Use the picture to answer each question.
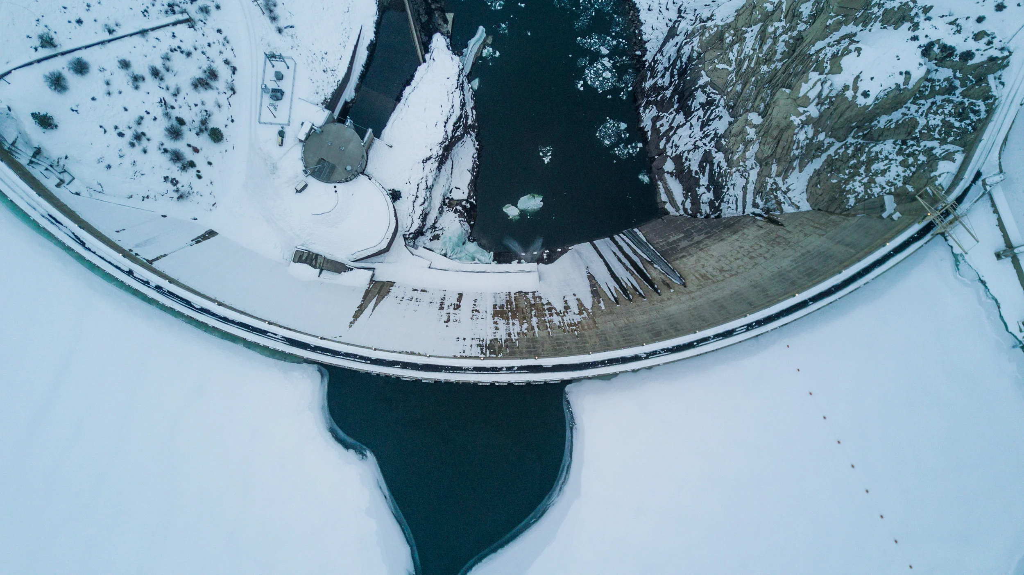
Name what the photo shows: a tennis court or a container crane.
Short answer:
container crane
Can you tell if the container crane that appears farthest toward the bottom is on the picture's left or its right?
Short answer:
right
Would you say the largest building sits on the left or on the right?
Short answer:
left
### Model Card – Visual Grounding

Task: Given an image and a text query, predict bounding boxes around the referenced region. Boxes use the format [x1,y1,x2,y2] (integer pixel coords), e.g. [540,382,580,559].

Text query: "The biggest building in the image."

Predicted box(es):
[302,121,370,186]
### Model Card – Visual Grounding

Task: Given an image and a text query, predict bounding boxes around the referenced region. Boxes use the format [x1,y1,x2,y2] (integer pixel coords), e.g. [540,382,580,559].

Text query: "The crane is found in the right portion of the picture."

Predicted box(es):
[914,185,980,254]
